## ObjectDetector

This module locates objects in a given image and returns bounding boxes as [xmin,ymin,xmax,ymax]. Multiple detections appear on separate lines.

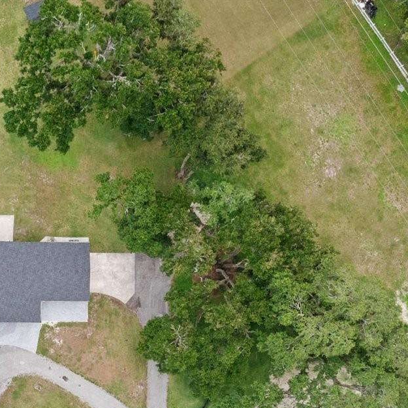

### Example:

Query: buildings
[23,0,43,26]
[0,241,91,323]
